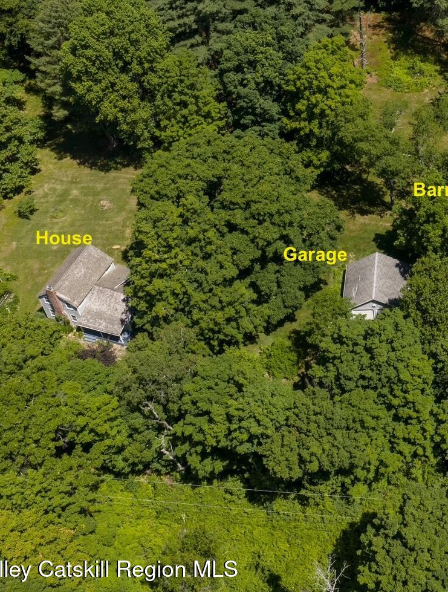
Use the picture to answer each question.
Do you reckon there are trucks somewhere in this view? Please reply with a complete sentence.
No, no truck is visible in the scene.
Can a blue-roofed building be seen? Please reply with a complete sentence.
No, there appears to be no blue-roofed building in this shot.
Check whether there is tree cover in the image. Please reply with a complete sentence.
Yes, there's tree cover in this view.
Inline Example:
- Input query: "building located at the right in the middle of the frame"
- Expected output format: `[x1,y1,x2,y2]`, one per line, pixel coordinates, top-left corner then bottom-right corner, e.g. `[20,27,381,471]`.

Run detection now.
[340,252,409,323]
